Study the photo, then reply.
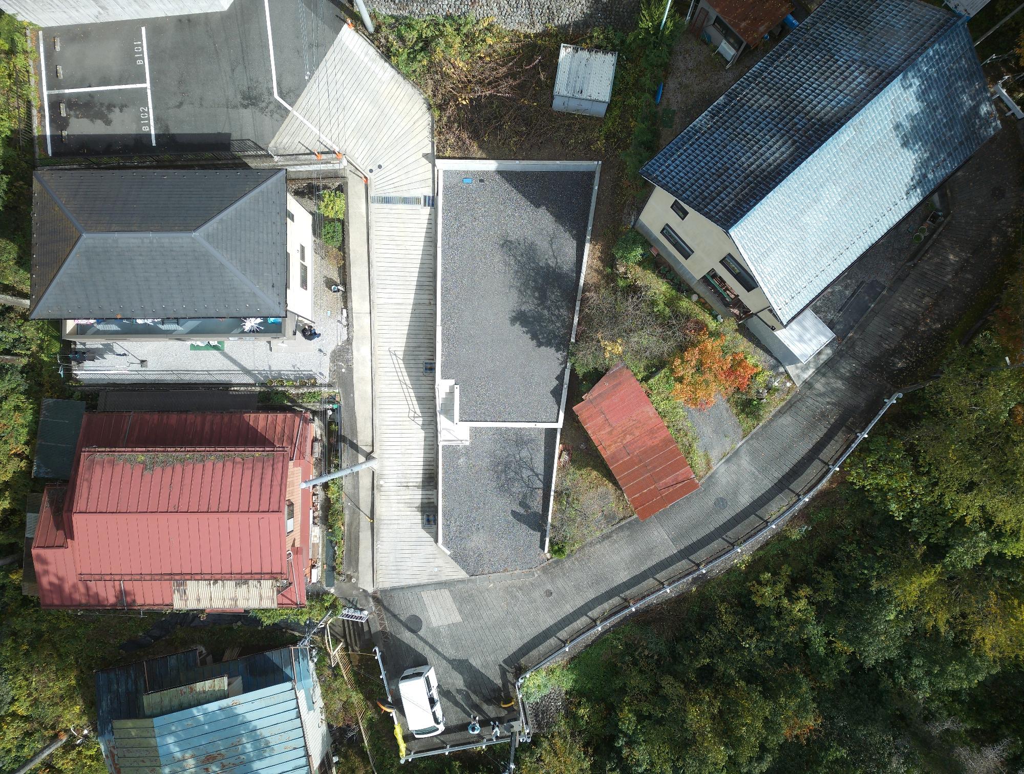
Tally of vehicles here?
1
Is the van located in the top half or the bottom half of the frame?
bottom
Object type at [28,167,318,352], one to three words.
house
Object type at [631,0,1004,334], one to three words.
house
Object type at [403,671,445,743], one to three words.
van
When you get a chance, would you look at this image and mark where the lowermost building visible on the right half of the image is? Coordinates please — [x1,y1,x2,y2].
[572,361,701,521]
